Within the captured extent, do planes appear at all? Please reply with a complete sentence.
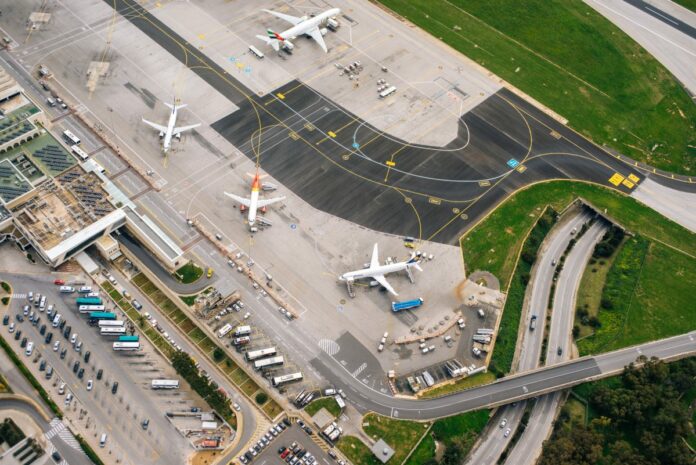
Yes, the image includes a plane.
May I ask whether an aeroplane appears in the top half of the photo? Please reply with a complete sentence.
Yes, I can see an aeroplane in the top half of the photo.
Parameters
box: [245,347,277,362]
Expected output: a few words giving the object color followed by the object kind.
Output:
white vehicle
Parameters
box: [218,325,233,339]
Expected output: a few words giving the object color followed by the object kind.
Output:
white vehicle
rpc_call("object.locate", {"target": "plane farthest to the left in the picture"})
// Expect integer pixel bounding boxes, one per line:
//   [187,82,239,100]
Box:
[142,97,203,152]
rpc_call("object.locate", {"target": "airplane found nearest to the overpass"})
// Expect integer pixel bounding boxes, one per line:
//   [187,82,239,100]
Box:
[343,241,421,296]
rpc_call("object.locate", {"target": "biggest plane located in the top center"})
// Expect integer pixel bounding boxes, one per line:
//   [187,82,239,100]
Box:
[254,8,341,52]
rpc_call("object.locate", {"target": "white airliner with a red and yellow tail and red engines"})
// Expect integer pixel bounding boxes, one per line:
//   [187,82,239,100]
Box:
[224,167,287,226]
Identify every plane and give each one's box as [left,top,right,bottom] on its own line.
[142,97,203,152]
[343,241,421,296]
[224,167,287,226]
[254,8,341,52]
